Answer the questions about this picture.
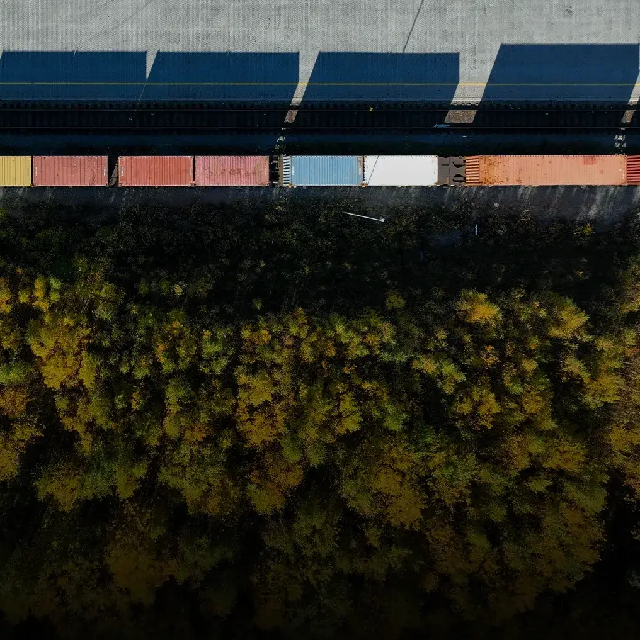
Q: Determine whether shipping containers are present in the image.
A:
Yes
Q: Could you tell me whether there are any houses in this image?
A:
No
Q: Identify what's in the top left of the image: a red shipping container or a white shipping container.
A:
red shipping container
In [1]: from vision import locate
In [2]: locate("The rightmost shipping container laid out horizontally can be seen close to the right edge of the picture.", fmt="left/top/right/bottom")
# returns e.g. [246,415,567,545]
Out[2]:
[465,155,626,185]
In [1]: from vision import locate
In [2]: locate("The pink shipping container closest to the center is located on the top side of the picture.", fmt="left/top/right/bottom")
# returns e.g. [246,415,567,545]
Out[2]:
[192,156,269,185]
